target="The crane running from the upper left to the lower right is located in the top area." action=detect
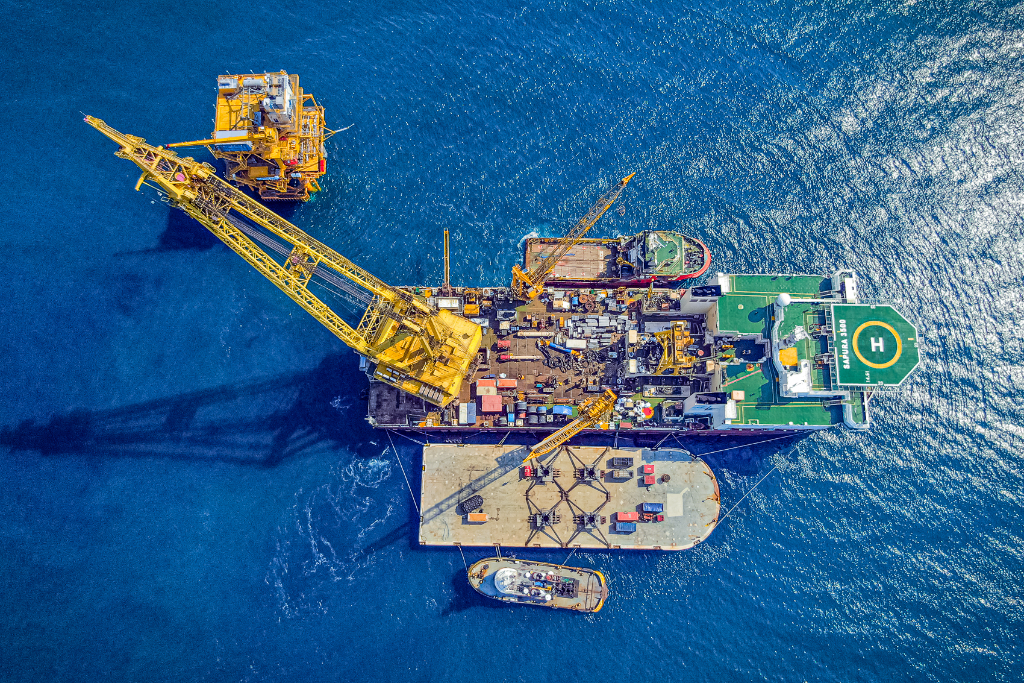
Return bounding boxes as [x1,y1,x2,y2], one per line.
[80,109,483,407]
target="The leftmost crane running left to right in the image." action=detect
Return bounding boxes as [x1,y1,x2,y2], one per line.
[165,126,288,165]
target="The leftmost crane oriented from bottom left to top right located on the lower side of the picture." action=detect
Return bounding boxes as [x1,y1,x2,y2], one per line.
[521,385,617,465]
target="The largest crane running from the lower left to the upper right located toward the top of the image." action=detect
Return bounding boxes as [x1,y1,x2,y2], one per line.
[515,172,637,305]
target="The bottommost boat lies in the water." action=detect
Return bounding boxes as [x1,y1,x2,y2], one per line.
[467,552,608,615]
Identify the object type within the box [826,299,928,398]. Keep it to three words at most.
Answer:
helipad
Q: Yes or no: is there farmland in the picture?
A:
No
